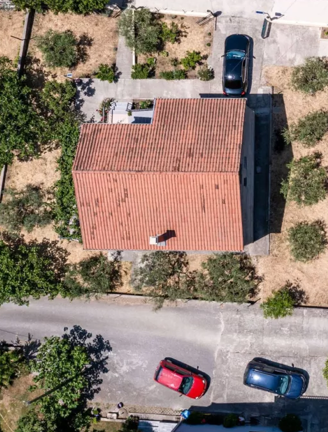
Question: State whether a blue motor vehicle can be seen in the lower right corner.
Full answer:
Yes, a blue motor vehicle appears in the lower right corner.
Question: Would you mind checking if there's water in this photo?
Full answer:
No, the scene doesn't show any water.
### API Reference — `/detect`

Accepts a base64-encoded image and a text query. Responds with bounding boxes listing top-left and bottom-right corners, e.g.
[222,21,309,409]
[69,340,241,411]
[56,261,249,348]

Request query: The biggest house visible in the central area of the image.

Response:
[71,96,254,254]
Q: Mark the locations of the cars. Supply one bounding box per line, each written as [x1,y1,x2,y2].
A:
[153,358,209,396]
[244,357,308,397]
[222,34,253,97]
